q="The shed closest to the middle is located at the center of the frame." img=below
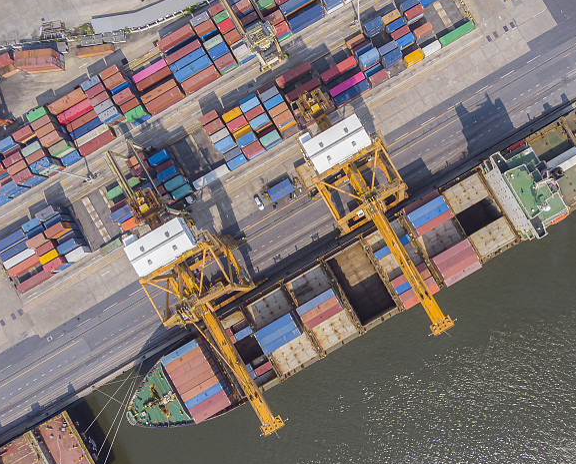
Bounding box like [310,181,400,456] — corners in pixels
[267,179,295,202]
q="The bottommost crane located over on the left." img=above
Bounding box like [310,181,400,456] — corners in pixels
[116,184,281,434]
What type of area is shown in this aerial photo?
port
